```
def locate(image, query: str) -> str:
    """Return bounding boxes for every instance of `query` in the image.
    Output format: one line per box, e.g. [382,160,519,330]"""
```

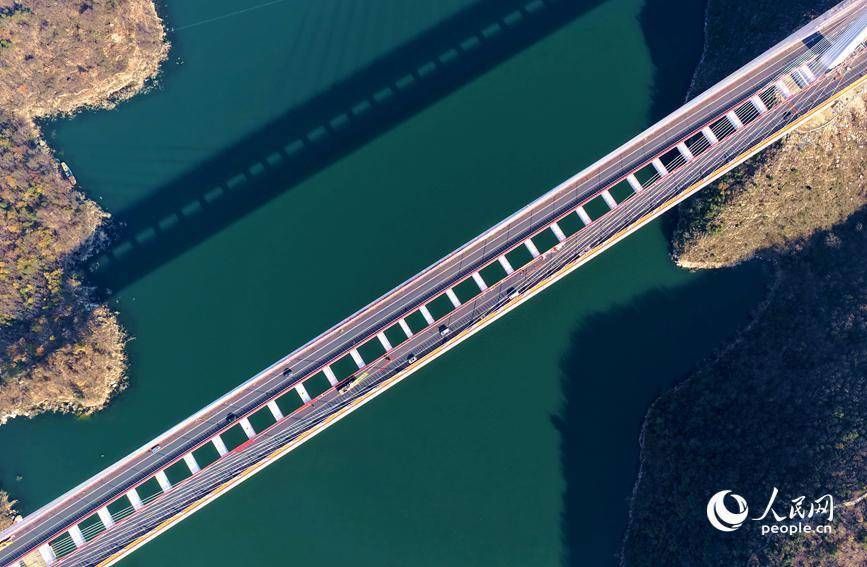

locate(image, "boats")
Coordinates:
[61,162,77,184]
